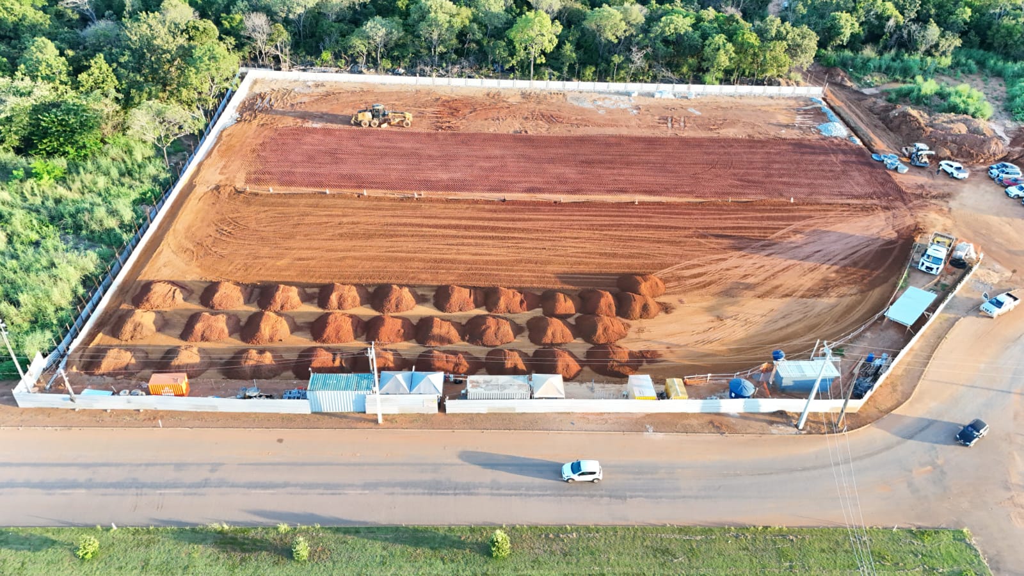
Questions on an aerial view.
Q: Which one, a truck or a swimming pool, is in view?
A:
truck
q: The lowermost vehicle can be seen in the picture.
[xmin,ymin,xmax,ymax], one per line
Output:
[561,463,602,485]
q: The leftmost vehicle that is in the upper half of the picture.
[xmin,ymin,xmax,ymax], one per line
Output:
[348,102,414,129]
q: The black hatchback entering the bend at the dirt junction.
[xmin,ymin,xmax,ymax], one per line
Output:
[956,420,993,449]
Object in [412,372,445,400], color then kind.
white tent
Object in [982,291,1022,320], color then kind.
white truck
